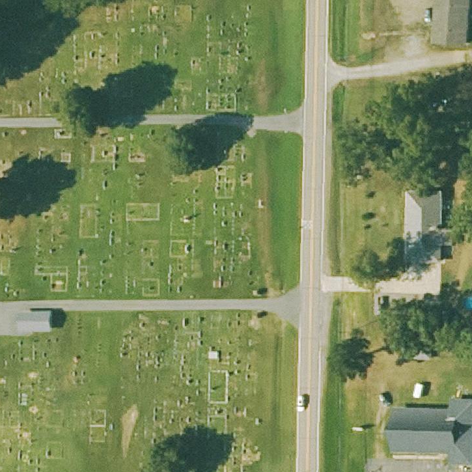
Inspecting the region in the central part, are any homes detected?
No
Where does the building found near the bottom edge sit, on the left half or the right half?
right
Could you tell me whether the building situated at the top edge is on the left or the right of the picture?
right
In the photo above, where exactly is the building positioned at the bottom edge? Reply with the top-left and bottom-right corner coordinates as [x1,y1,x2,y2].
[386,399,472,464]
